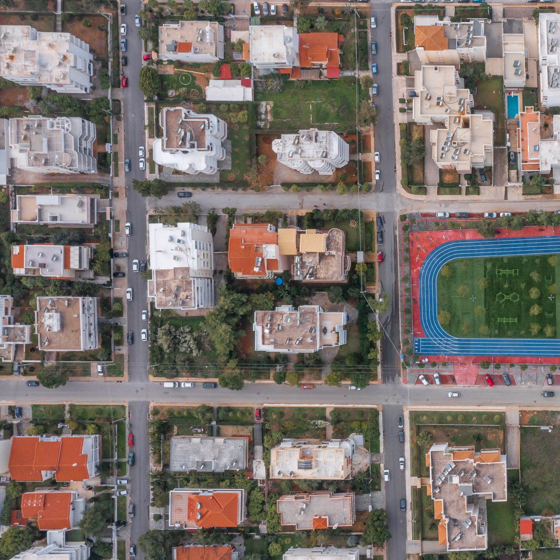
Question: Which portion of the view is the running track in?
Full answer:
The running track sits in the right section of the image.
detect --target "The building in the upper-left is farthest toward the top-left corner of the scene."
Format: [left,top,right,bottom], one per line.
[0,24,89,95]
